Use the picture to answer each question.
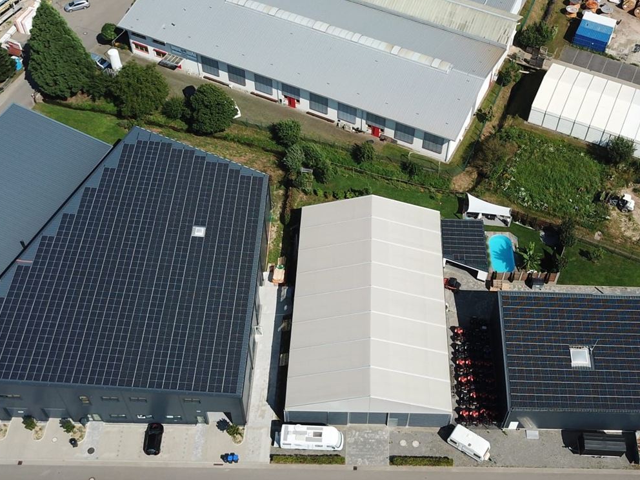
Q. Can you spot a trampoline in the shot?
Yes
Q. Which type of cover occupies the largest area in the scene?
buildings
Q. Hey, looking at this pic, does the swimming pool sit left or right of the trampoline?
on its left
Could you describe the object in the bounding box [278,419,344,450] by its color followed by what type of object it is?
white camper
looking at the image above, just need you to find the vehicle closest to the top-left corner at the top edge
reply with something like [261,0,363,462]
[60,0,92,13]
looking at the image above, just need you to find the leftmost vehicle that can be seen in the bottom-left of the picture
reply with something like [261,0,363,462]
[140,418,162,455]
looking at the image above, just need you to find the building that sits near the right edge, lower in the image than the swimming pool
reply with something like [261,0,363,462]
[494,291,640,431]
